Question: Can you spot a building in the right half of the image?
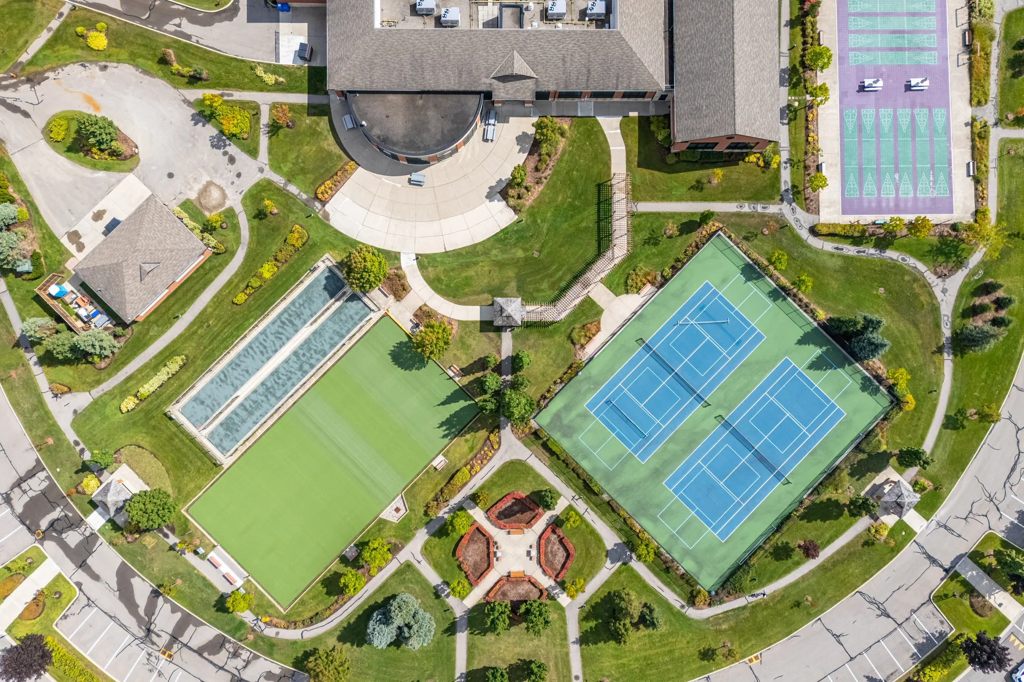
Yes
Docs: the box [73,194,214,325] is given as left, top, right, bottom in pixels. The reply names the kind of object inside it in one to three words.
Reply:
building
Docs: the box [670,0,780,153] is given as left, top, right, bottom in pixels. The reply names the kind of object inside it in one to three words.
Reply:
building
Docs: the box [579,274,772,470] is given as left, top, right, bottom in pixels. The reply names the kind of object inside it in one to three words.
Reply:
tennis court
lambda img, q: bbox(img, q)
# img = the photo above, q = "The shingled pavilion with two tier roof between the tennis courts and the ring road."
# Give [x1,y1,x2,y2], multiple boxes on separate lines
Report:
[875,479,921,519]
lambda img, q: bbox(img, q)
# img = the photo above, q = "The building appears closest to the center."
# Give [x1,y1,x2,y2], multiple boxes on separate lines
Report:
[493,297,522,326]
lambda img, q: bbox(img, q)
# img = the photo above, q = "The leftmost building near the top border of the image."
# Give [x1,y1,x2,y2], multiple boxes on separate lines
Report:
[273,0,674,161]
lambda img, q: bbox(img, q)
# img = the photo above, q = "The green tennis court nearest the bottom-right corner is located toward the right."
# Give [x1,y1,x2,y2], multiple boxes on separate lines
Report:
[532,228,899,594]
